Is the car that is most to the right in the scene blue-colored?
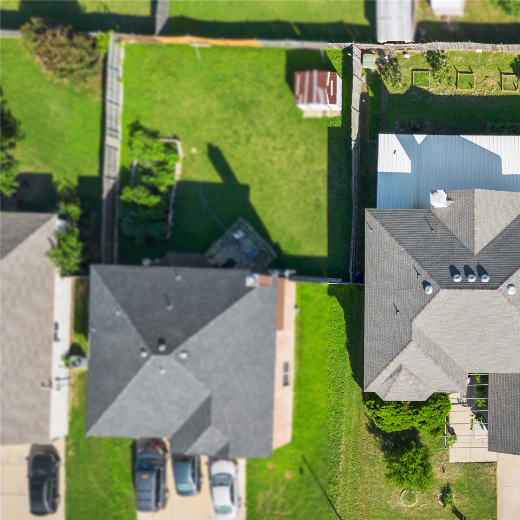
No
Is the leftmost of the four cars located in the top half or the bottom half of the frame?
bottom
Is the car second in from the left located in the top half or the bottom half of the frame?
bottom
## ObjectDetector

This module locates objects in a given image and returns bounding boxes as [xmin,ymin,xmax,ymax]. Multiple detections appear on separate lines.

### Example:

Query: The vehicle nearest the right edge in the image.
[208,458,242,520]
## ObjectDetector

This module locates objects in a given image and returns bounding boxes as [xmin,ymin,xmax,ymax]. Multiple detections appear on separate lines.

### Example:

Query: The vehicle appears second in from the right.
[172,454,204,494]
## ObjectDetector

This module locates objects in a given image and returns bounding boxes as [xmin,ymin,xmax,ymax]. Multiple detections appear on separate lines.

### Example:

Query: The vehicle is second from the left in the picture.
[134,440,169,507]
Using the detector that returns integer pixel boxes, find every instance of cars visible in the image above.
[172,454,204,494]
[26,447,63,512]
[208,458,242,520]
[134,440,169,507]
